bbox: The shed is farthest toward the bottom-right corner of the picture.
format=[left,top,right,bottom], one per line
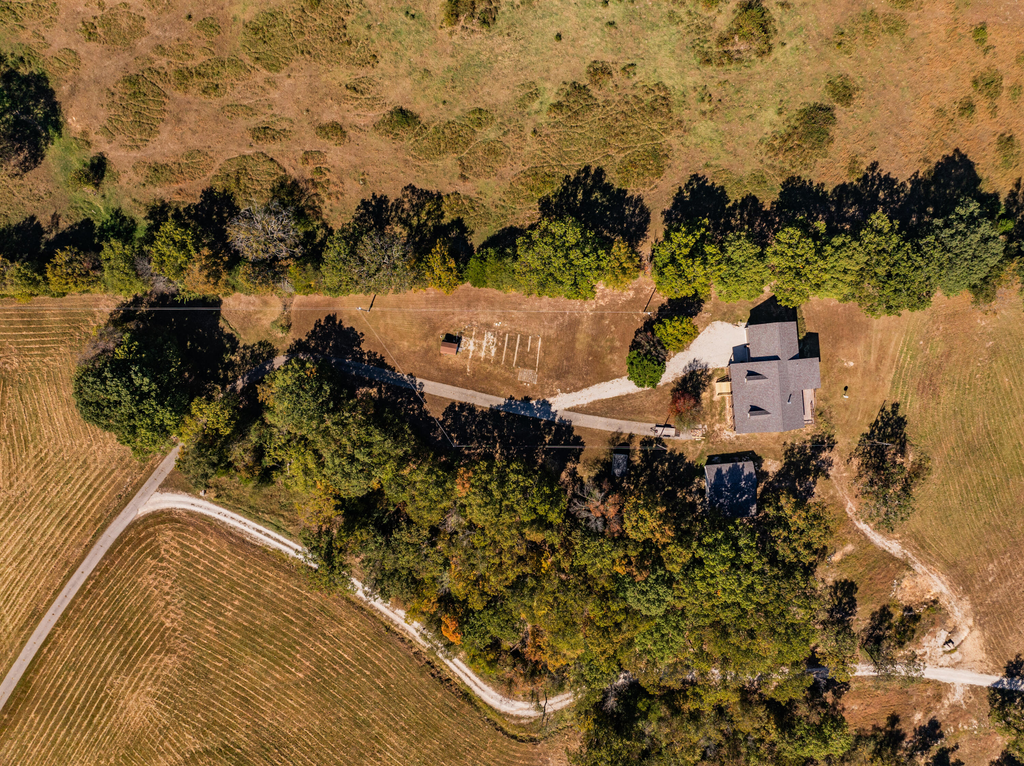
[702,462,757,519]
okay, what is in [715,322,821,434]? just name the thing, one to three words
house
